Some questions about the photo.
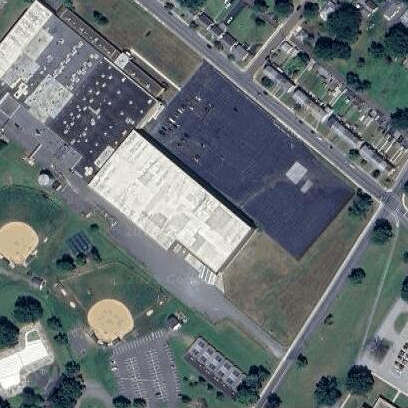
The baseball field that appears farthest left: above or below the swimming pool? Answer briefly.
above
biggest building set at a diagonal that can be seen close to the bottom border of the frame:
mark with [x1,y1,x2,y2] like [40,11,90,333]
[187,337,248,390]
